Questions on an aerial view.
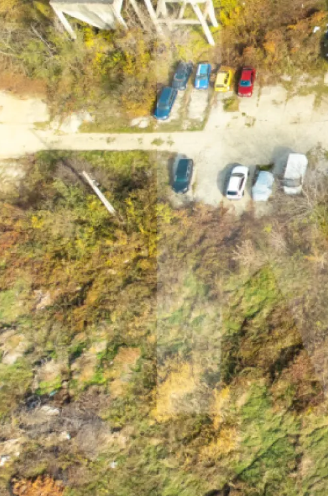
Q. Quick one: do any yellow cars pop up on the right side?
Yes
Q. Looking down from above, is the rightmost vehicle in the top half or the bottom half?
top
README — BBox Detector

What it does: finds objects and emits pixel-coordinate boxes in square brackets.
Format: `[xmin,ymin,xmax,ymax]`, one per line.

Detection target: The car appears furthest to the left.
[153,85,180,121]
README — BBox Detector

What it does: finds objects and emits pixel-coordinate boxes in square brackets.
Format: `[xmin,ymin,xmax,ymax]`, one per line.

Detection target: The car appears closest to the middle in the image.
[170,156,193,194]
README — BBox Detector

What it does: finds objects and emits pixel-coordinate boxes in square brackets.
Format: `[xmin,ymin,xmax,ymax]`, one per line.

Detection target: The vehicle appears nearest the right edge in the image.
[280,147,307,198]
